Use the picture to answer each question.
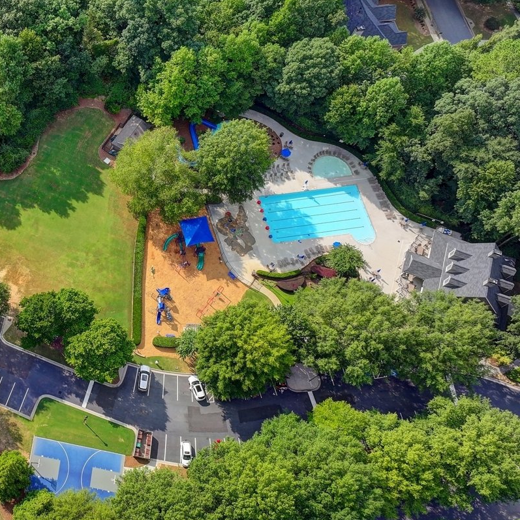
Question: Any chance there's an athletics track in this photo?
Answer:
No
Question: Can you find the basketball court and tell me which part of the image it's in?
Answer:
bottom left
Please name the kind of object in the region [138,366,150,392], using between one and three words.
vehicle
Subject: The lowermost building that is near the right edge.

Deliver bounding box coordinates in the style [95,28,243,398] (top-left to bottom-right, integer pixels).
[400,228,520,322]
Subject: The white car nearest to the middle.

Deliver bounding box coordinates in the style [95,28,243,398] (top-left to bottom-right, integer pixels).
[188,376,206,401]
